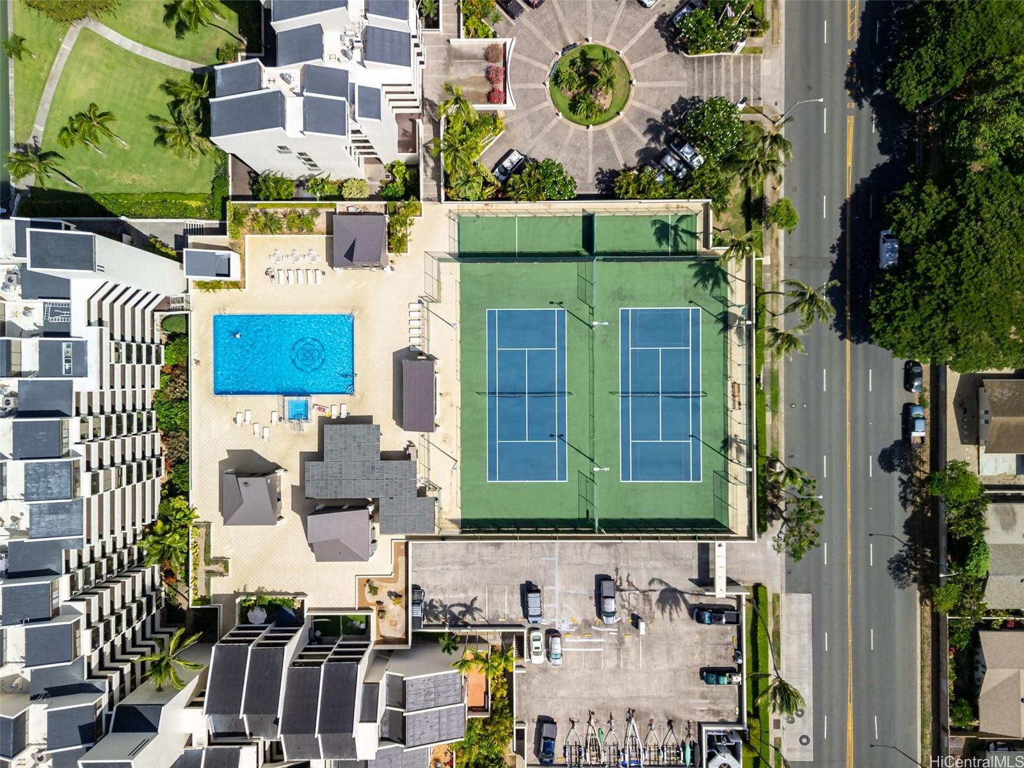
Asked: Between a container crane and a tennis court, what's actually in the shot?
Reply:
tennis court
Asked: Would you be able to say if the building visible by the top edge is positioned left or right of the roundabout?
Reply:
left of it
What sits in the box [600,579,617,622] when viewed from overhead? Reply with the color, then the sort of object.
gray vehicle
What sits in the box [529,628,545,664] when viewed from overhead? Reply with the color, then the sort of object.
white car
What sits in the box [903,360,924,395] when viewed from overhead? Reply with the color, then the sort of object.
black car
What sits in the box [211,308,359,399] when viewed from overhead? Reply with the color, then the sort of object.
blue swimming pool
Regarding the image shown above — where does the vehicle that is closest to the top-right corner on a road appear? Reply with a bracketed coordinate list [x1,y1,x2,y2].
[878,231,899,270]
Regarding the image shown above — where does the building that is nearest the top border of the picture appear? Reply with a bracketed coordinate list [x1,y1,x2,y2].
[208,0,427,172]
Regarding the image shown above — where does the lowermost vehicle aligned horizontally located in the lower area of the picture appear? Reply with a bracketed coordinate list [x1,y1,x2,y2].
[703,667,742,686]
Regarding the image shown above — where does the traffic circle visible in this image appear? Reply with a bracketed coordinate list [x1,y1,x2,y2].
[546,39,636,129]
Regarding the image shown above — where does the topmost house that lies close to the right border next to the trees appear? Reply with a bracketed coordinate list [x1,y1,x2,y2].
[970,380,1024,475]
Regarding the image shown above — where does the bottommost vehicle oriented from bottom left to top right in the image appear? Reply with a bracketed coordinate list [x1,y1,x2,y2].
[494,147,526,182]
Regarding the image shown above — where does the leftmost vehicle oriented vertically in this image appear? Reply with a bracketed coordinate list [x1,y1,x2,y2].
[412,585,427,627]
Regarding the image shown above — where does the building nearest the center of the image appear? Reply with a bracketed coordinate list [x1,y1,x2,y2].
[402,360,440,431]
